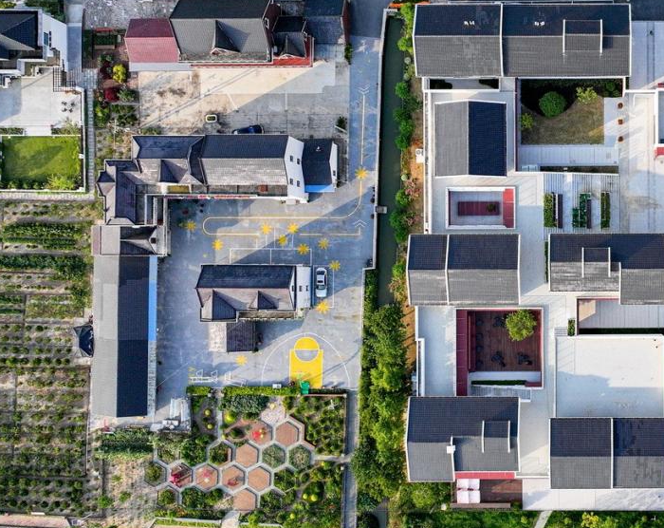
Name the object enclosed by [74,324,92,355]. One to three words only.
tent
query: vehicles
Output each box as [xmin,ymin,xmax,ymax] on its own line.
[312,266,328,299]
[231,121,266,135]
